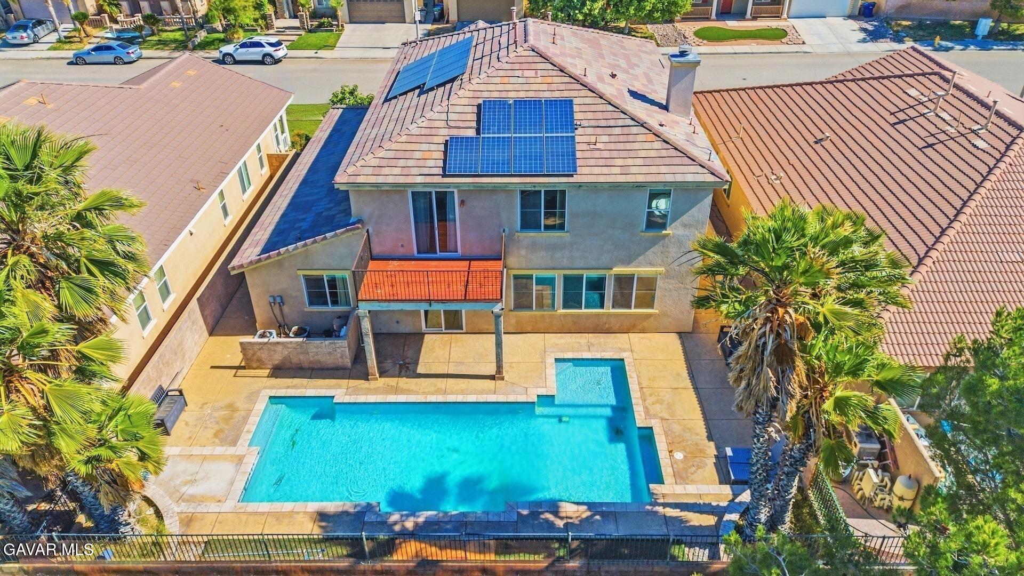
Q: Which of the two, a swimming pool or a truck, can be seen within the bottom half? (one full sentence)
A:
There is a swimming pool within the bottom half.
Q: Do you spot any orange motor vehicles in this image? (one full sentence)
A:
No, no orange motor vehicle is visible in the view.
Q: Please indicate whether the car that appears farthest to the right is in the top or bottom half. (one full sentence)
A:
The car that appears farthest to the right is in the top half of the image.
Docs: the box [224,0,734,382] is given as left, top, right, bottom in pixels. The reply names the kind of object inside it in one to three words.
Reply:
house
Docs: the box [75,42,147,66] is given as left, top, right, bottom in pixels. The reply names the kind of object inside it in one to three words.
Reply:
car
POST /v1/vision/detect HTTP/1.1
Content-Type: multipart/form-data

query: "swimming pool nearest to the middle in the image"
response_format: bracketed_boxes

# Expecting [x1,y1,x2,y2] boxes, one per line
[223,352,679,522]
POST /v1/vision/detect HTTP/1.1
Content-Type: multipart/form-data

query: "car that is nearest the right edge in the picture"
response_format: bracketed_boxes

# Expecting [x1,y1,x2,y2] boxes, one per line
[223,36,292,65]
